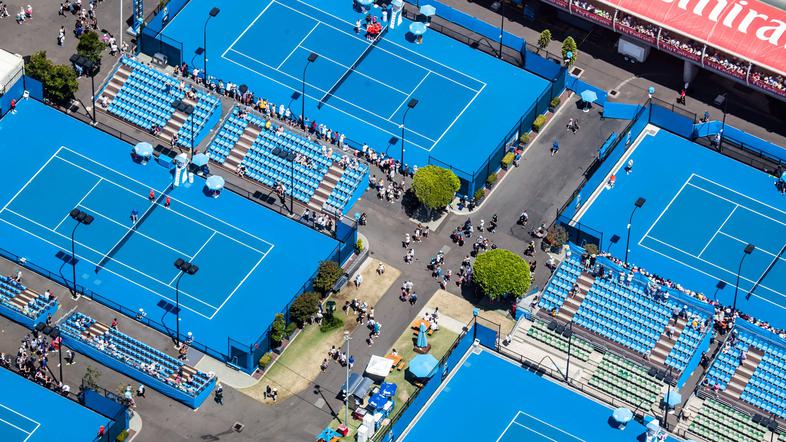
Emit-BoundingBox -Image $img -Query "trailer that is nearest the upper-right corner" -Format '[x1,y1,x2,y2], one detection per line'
[609,33,651,64]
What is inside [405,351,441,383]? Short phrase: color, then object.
blue umbrella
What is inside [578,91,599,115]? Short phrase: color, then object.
blue umbrella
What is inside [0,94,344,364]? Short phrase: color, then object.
blue tennis court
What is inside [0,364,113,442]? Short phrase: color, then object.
blue tennis court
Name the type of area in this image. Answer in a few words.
sports ground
